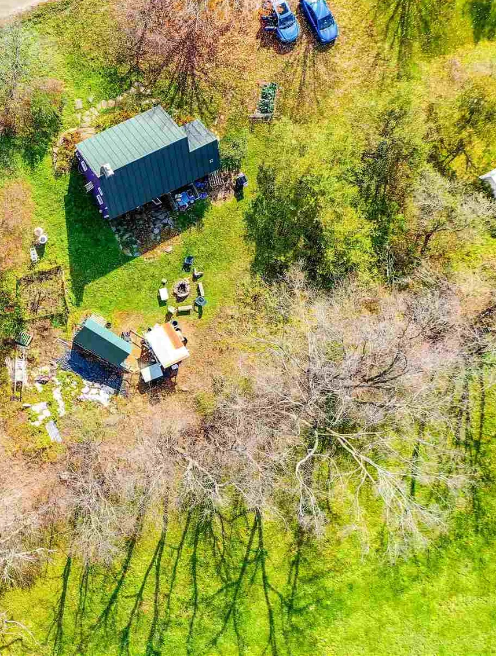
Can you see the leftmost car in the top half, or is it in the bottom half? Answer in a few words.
top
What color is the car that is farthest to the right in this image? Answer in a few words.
blue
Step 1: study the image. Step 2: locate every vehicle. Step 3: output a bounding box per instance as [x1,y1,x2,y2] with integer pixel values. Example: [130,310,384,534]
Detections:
[263,0,302,43]
[303,0,339,46]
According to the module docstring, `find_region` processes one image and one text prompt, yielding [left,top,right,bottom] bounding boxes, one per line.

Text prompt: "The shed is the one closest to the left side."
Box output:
[67,320,135,379]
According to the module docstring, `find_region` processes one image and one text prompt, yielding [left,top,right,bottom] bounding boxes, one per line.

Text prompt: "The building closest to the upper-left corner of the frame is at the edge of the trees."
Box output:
[75,106,220,219]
